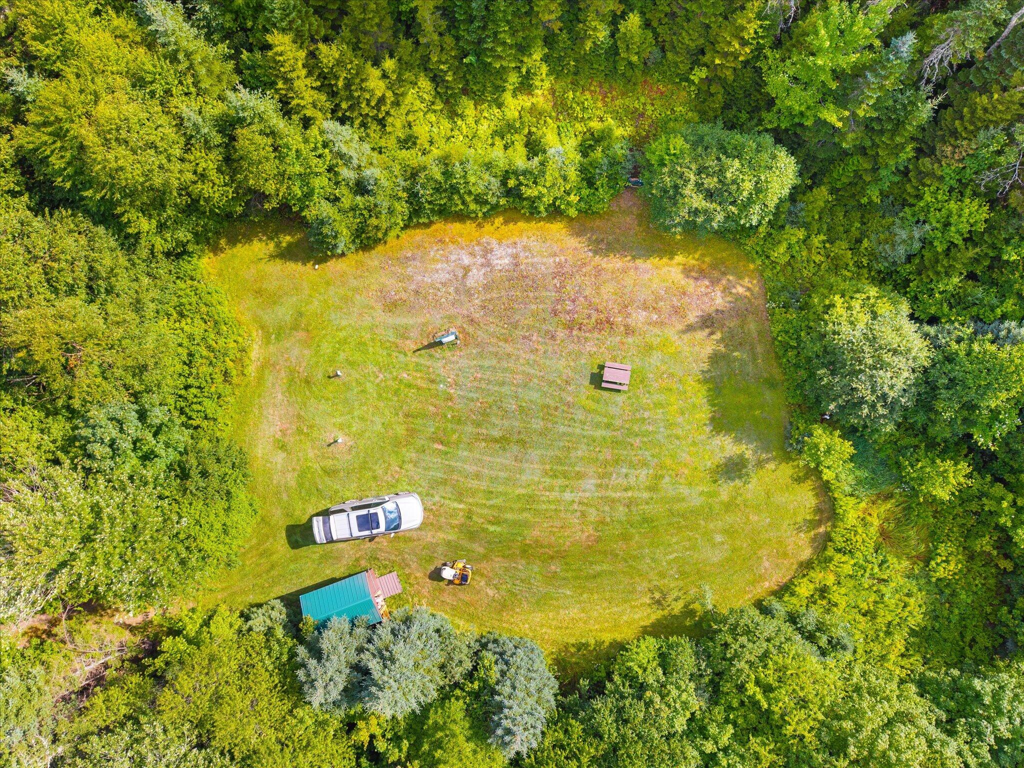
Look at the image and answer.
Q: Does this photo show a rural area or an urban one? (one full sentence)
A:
From above, the setting appears rural.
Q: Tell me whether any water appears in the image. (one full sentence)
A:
No, no water is visible.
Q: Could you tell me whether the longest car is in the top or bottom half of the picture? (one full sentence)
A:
It is in the bottom half that the longest car appears.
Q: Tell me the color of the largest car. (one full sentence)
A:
The largest car looks white in the image.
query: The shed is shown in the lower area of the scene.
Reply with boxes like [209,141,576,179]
[298,567,403,643]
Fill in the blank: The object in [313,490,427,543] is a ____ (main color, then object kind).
white car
